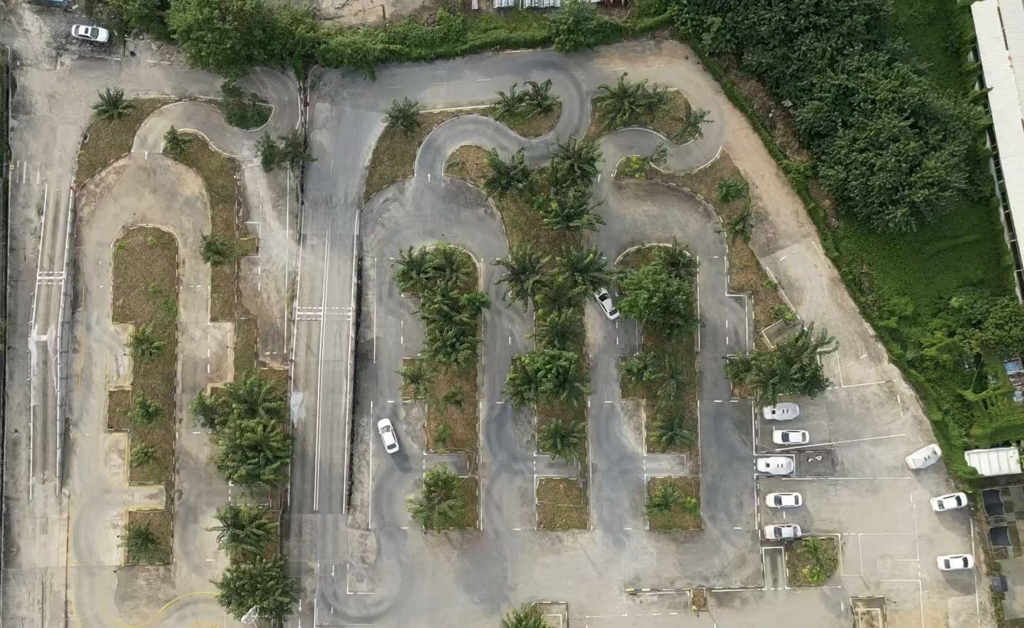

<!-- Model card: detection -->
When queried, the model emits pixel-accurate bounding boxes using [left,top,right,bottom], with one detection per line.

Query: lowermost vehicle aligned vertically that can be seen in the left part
[378,418,399,454]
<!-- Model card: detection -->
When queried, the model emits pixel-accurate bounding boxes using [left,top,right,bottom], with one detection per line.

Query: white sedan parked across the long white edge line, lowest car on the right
[934,553,973,572]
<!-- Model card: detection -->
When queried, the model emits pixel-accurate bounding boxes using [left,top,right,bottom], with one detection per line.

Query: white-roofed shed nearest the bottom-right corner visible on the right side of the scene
[963,446,1023,477]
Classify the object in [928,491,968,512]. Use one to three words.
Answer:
car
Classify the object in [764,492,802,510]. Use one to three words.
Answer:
car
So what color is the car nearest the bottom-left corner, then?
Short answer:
white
